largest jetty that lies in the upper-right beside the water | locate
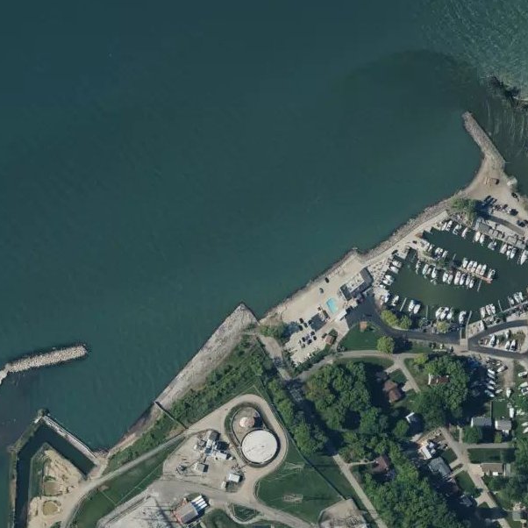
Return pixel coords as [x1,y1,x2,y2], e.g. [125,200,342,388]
[463,111,504,167]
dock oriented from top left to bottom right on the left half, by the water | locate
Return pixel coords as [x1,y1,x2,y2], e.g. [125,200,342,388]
[41,415,101,462]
